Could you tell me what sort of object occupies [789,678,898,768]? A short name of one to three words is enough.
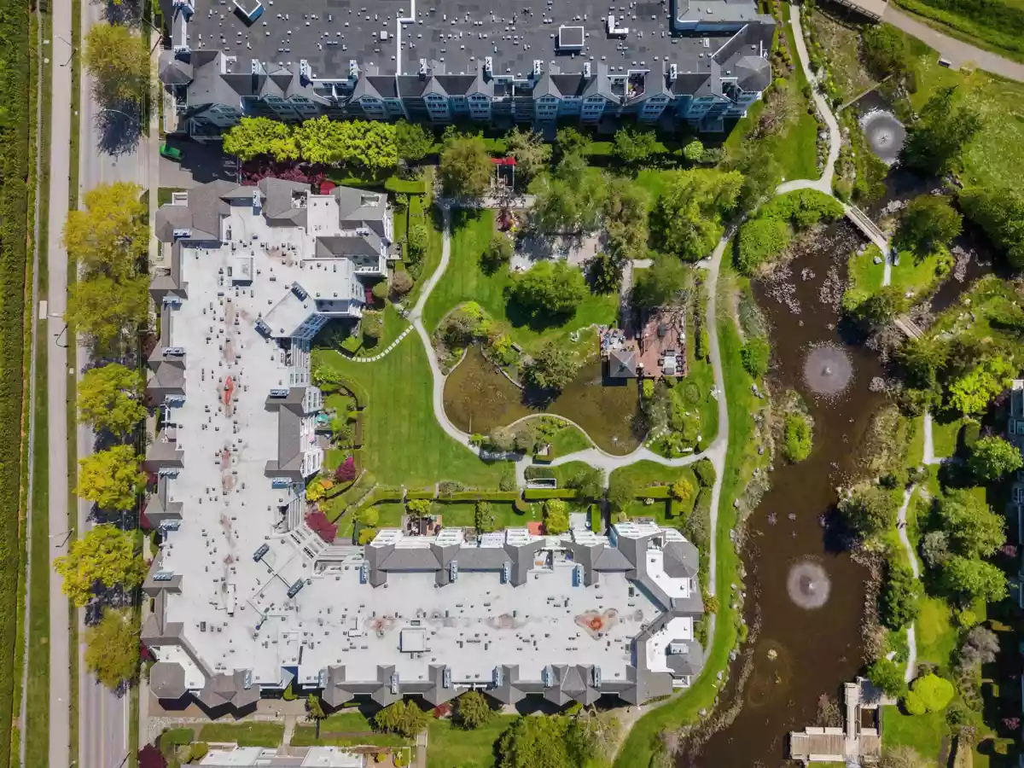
pier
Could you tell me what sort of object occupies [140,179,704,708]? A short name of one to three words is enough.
building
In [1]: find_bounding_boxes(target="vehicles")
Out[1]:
[158,145,182,161]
